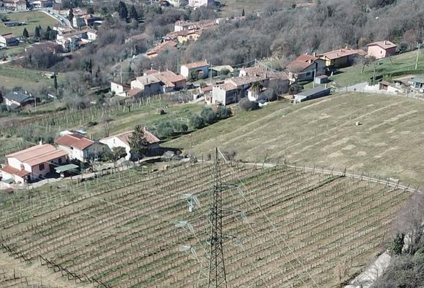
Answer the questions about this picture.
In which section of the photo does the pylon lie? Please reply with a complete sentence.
The pylon is located in the bottom region of the scene.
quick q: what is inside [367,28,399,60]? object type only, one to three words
house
